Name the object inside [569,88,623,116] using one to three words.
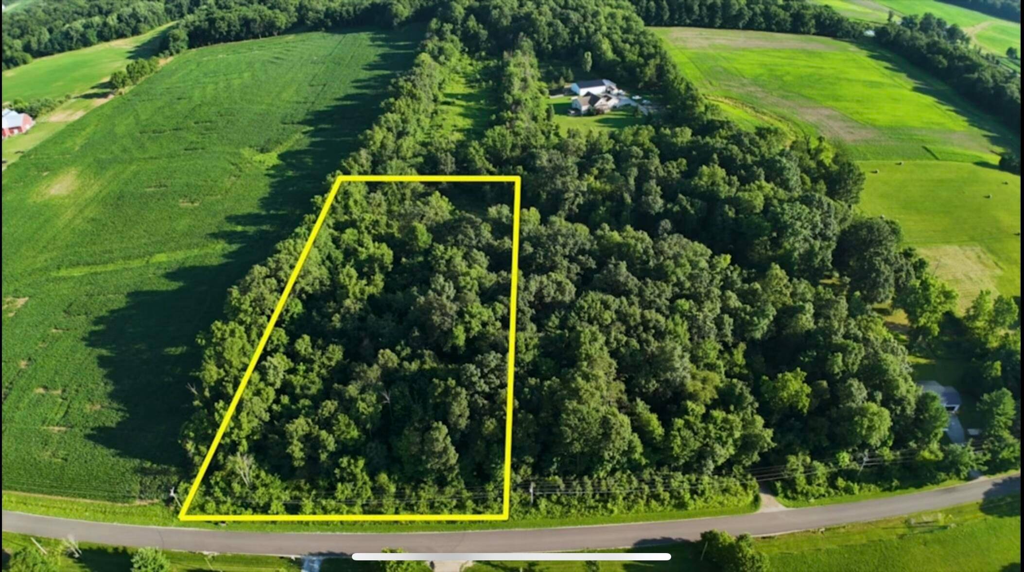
house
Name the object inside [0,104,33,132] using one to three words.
barn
